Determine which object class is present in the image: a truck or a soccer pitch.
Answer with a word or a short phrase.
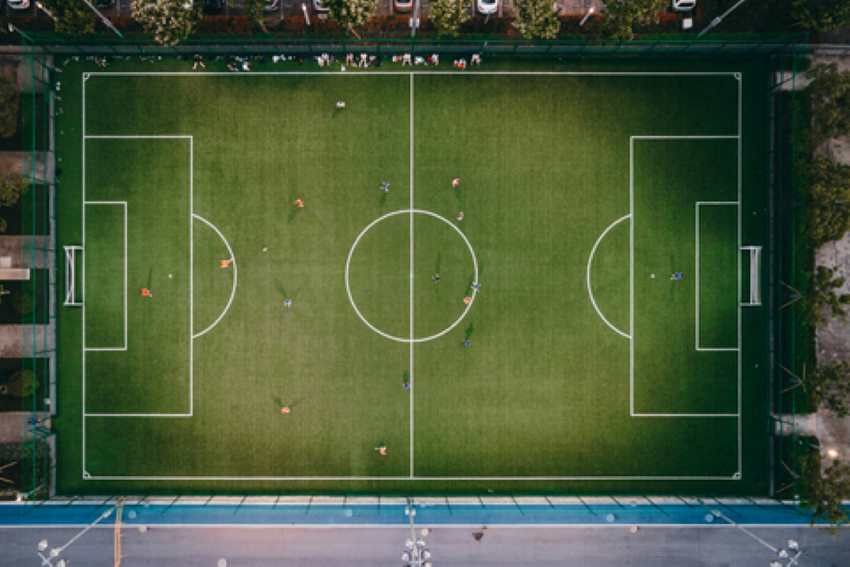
soccer pitch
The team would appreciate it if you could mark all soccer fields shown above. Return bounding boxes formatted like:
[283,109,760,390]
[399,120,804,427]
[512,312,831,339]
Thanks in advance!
[58,56,767,494]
